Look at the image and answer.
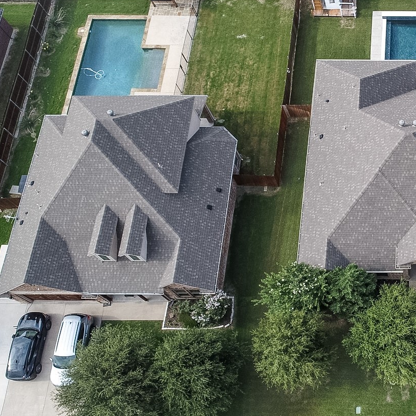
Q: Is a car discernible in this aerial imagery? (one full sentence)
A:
Yes, you can see a car in this photo.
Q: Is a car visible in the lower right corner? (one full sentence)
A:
No, the scene shows no car in the lower right corner.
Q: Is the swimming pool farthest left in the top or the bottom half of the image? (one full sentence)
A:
The swimming pool farthest left sits in the top half of the picture.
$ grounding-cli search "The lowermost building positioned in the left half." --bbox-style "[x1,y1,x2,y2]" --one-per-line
[0,94,242,308]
